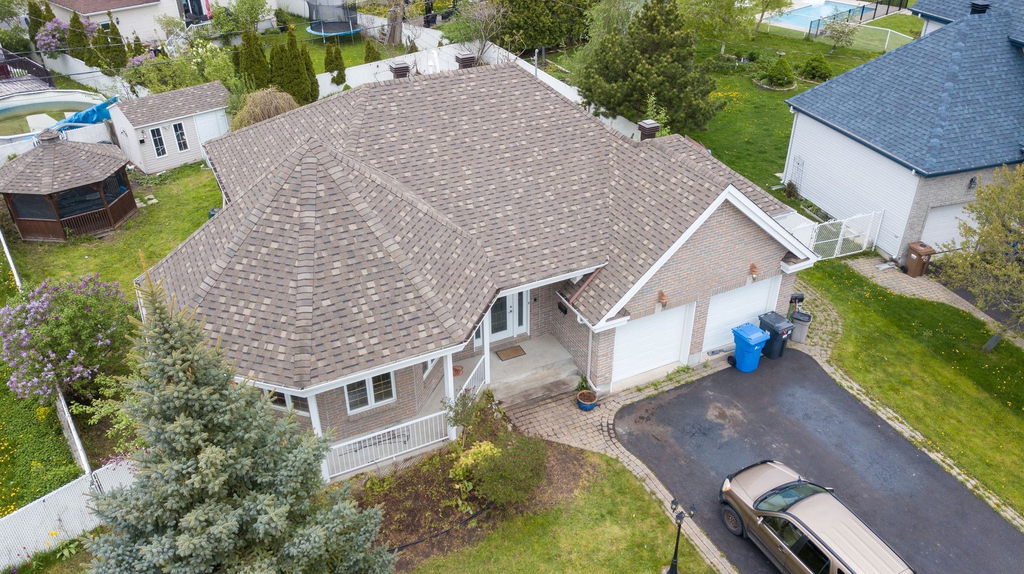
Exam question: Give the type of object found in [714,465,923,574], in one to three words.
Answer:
car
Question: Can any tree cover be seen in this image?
Yes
